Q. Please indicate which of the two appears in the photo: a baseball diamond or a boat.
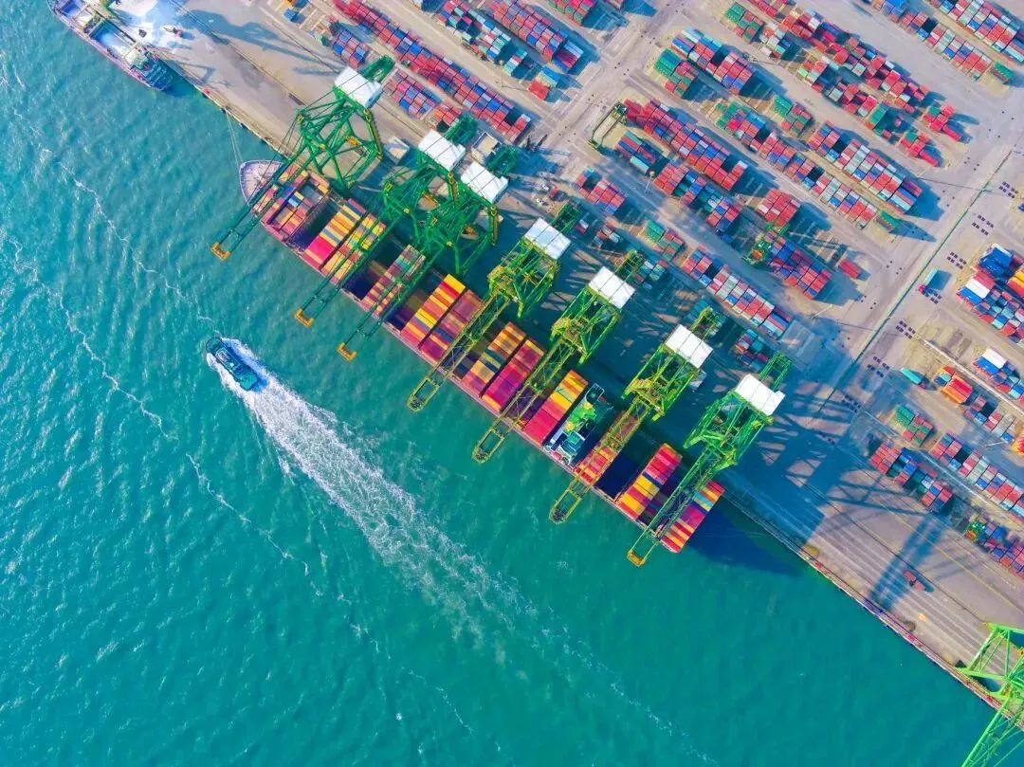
boat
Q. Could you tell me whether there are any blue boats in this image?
Yes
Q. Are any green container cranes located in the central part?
Yes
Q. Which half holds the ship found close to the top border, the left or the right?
left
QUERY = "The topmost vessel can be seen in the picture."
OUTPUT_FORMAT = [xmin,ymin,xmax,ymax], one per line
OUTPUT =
[27,0,168,95]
